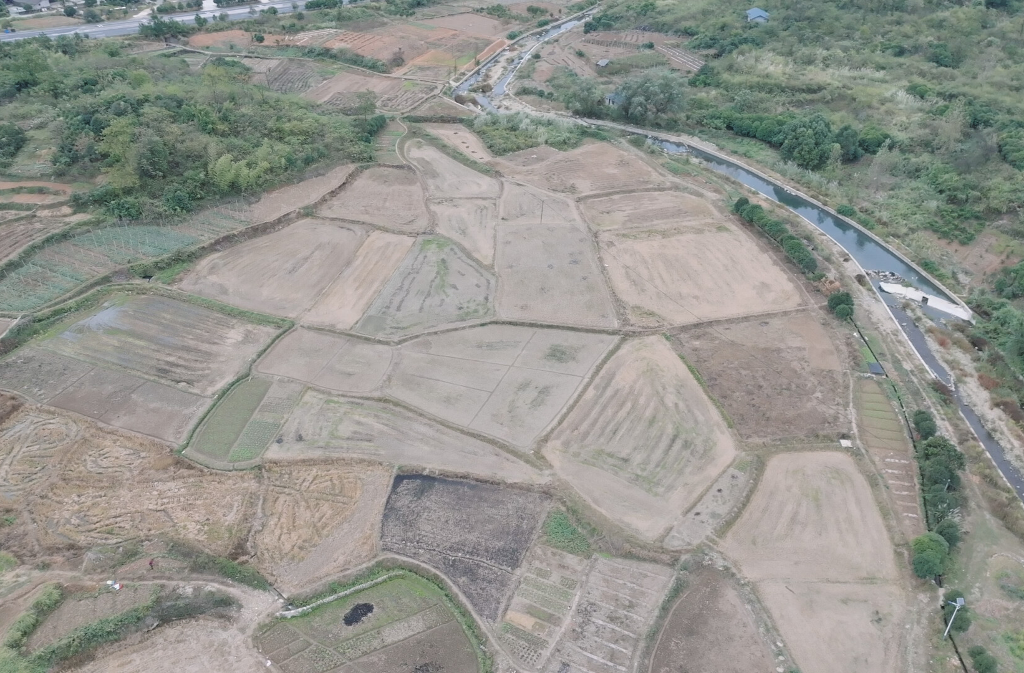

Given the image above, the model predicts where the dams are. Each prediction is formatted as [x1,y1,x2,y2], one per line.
[879,283,967,320]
